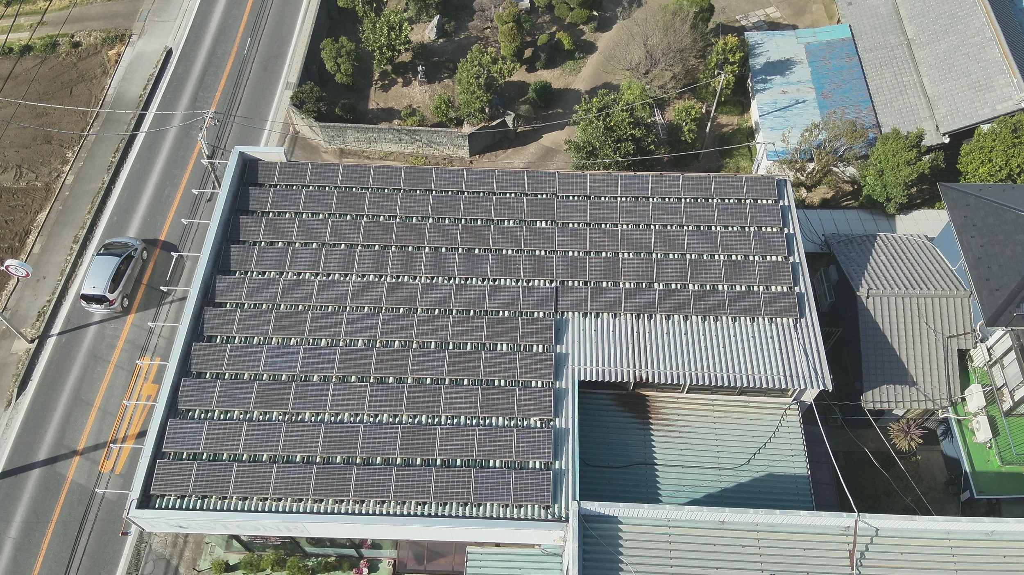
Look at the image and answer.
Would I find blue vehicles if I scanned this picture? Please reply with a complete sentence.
No, there is no blue vehicle in the image.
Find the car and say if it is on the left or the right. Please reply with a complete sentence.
The car appears in the left half of the scene.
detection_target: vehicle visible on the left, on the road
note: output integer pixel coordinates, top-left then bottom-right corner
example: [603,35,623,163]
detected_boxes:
[75,239,147,317]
